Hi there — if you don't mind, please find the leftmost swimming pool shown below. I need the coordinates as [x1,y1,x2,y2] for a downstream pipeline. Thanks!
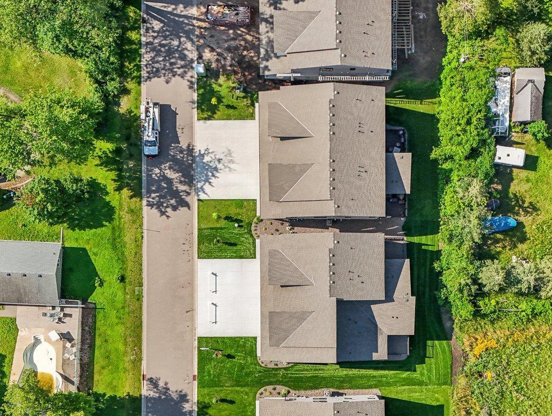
[17,333,61,404]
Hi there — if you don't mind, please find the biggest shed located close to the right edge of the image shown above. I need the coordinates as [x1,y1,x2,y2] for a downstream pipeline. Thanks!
[506,68,544,124]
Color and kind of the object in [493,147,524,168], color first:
white vehicle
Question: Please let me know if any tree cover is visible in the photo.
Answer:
Yes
